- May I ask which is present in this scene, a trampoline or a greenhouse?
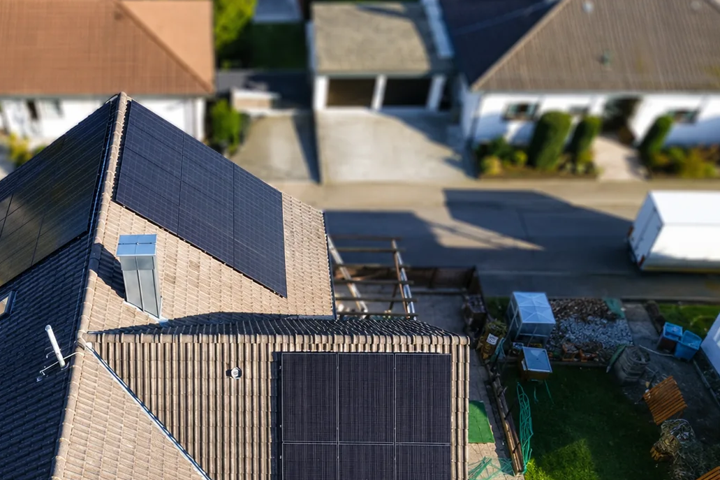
greenhouse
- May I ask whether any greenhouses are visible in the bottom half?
Yes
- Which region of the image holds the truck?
right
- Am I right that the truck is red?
No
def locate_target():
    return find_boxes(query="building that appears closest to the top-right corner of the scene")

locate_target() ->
[440,0,720,147]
